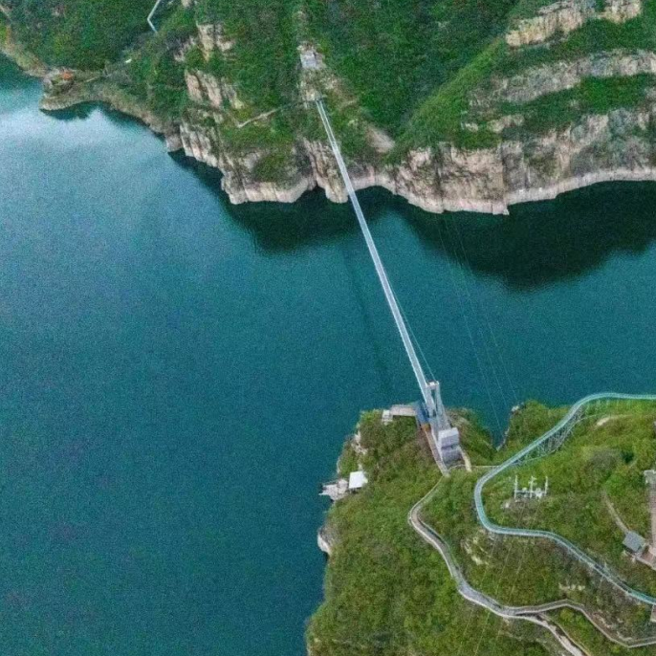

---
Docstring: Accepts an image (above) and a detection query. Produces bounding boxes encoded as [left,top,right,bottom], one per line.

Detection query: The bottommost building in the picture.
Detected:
[621,532,649,562]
